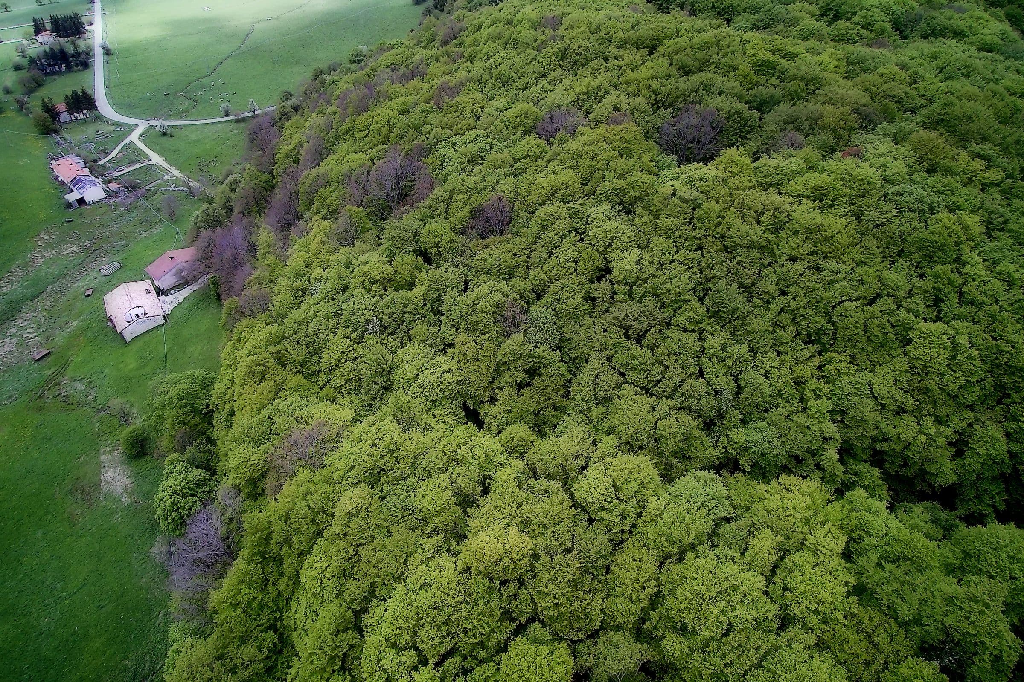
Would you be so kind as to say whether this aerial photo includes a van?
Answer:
No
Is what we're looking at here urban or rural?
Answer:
rural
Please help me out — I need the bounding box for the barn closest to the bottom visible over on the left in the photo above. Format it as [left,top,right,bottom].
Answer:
[104,282,168,342]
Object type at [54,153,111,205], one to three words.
house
